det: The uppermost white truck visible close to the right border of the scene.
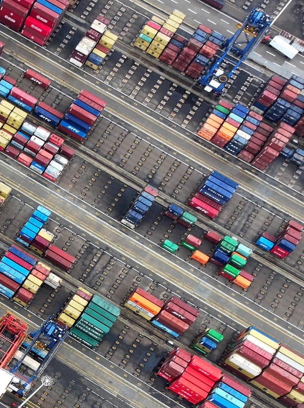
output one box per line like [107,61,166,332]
[257,36,296,60]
